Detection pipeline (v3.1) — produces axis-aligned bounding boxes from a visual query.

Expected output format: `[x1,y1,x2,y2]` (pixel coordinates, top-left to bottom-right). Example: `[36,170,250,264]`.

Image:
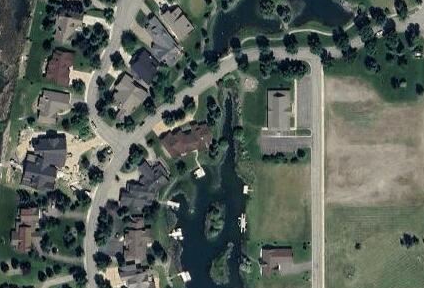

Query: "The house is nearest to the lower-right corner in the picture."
[261,245,292,276]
